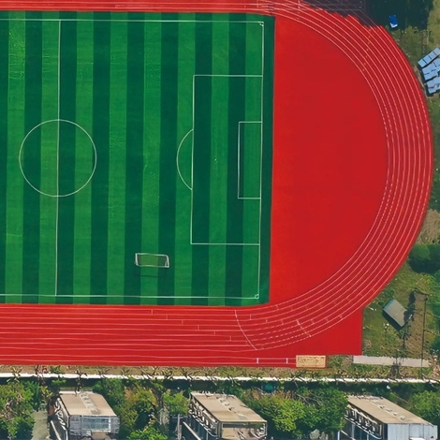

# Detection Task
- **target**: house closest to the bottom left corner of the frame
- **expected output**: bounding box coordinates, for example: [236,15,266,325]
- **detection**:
[53,395,119,440]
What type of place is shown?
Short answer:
sports ground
